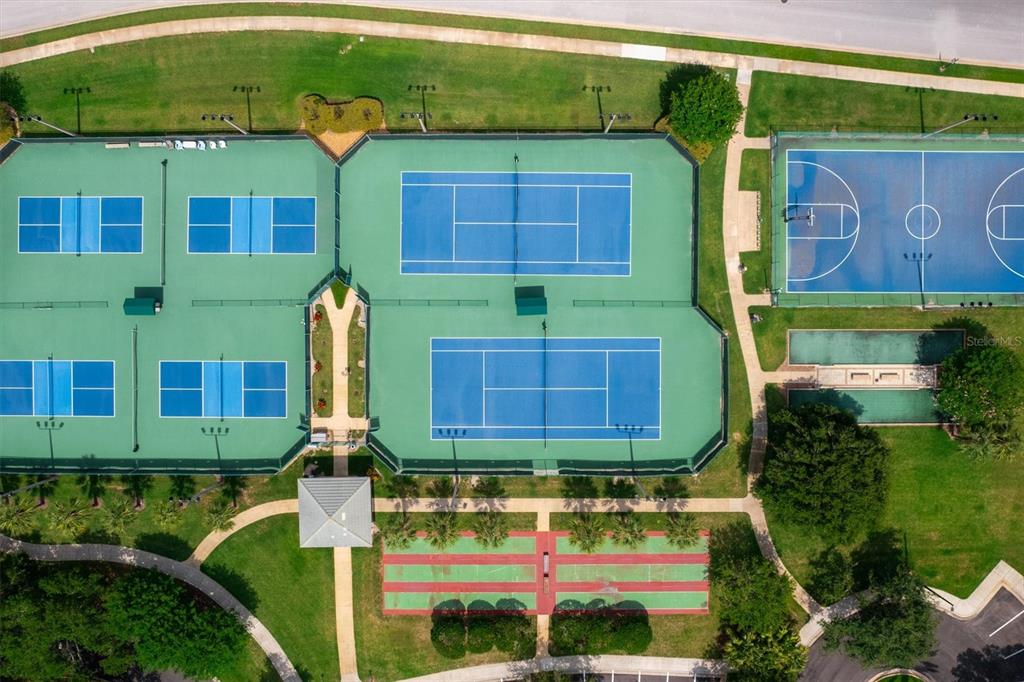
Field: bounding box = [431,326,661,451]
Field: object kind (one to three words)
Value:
tennis court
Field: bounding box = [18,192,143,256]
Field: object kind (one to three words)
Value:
sports court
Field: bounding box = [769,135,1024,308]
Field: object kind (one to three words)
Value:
basketball court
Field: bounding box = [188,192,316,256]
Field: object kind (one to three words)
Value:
sports court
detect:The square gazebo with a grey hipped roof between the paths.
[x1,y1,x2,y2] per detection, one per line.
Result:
[298,474,373,548]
